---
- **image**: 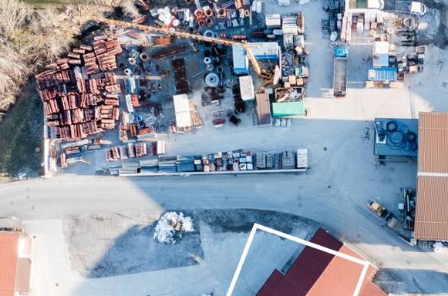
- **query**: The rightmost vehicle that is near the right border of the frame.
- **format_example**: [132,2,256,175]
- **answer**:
[395,1,426,15]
